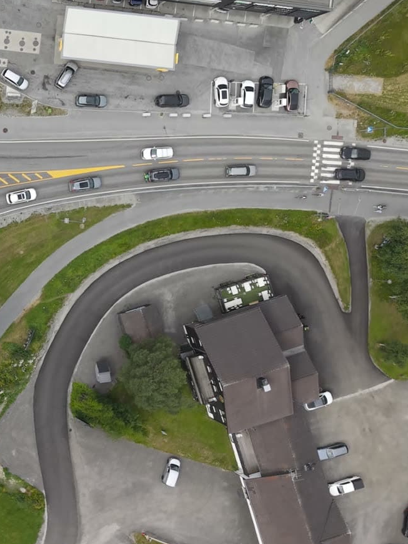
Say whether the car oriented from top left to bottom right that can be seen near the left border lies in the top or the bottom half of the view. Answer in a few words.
top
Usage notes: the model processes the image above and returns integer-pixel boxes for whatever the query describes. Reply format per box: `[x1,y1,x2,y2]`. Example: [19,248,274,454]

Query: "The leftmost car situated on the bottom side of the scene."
[163,456,182,487]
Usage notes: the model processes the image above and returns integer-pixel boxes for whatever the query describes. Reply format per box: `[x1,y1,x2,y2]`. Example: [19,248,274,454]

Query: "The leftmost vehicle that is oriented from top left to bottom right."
[0,67,30,91]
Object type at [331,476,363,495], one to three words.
vehicle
